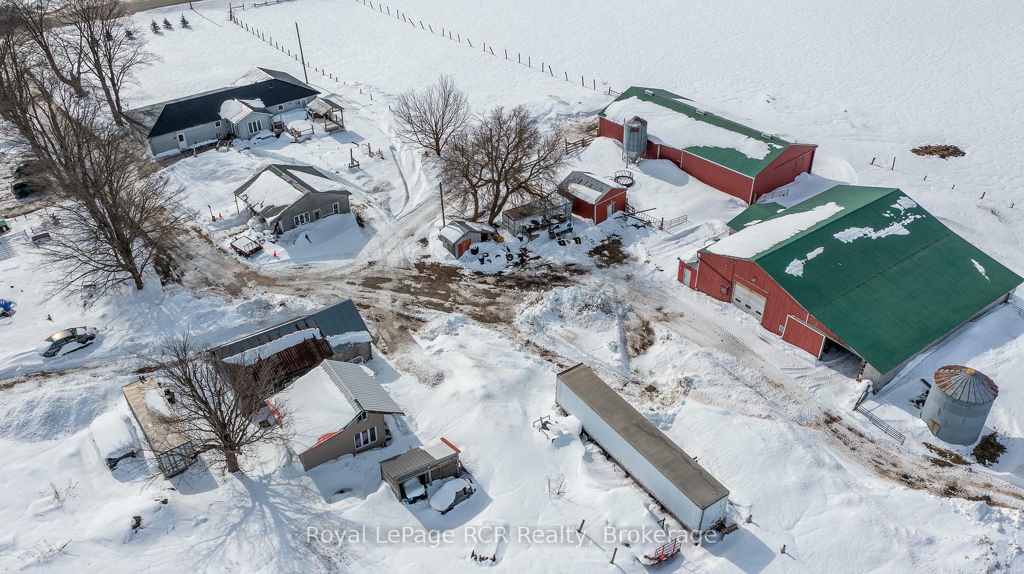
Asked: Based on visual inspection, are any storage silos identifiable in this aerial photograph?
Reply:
Yes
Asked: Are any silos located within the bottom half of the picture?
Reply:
Yes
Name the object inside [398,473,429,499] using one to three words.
car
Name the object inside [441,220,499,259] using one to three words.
shed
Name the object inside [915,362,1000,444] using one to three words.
silo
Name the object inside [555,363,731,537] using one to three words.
trailer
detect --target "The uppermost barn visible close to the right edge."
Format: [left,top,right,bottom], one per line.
[695,185,1023,397]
